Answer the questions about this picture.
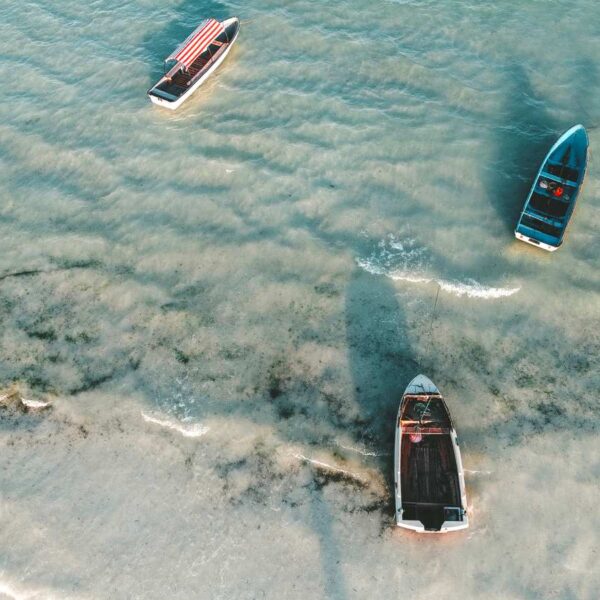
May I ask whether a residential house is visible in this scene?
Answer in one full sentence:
No, no residential house is visible in the scene.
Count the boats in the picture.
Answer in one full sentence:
The count of boats comes to 3.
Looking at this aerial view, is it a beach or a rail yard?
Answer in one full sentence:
This looks like a beach.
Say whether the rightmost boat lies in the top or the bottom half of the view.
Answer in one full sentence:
The top half of the photo is where the rightmost boat is.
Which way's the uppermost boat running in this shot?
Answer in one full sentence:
What the image shows is the uppermost boat lying diagonally.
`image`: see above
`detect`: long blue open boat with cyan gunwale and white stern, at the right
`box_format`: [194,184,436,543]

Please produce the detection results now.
[518,125,589,253]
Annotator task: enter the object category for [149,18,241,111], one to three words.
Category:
boat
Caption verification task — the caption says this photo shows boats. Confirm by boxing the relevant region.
[149,18,241,111]
[391,373,468,531]
[518,125,589,253]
